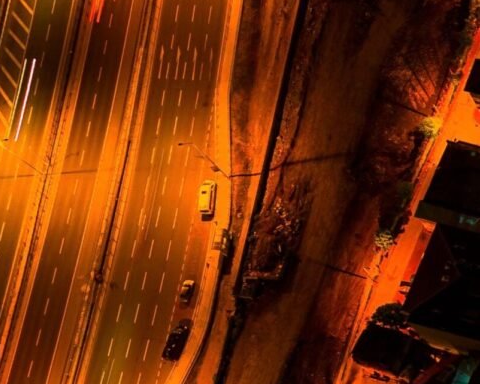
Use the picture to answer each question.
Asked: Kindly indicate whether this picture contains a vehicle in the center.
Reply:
Yes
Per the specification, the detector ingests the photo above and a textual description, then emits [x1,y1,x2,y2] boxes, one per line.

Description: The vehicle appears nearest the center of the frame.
[199,181,215,217]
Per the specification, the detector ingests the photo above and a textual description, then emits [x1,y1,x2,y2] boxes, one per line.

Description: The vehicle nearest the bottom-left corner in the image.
[164,321,187,360]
